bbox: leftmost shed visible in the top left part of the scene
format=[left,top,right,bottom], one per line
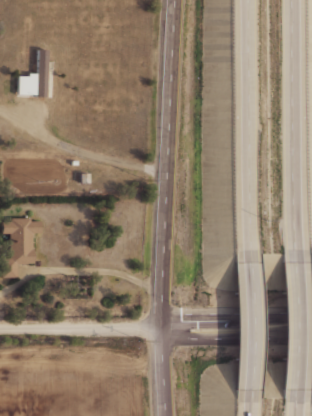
[18,74,40,97]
